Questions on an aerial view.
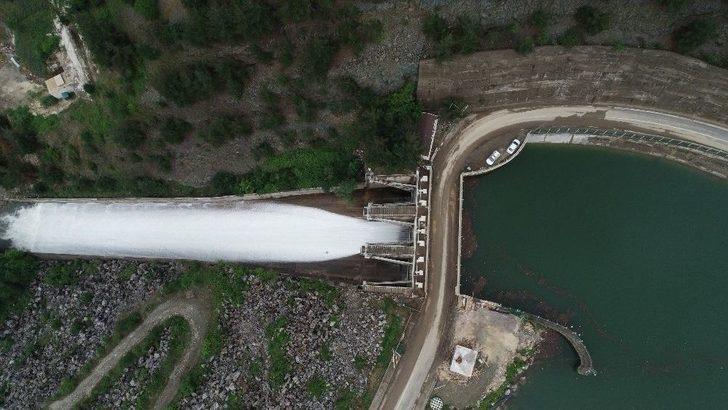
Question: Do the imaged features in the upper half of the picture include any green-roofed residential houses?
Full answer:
No, there's no green-roofed residential house to be seen in the upper half of the picture.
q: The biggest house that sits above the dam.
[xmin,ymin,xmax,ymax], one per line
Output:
[45,73,77,100]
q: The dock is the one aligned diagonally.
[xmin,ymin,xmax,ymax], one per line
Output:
[463,297,594,375]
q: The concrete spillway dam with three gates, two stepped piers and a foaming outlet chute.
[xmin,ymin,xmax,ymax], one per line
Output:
[0,139,432,294]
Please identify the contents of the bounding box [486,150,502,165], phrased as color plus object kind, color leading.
white car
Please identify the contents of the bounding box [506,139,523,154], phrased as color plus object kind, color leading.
white car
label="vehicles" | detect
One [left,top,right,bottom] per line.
[486,150,502,165]
[506,139,523,154]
